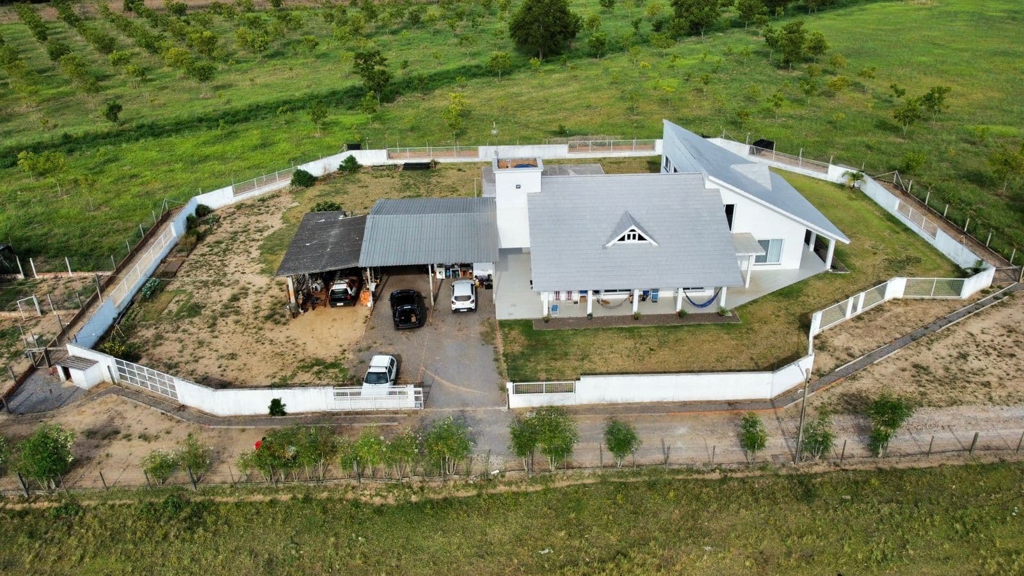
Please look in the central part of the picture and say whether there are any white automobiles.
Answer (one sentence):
Yes, there is a white automobile in the central part of the picture.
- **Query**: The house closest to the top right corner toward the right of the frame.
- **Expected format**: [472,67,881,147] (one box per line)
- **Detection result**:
[500,117,854,313]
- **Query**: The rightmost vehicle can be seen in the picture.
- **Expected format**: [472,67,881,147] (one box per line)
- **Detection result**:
[451,282,479,314]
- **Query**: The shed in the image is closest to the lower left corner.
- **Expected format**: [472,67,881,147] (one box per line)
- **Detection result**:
[48,346,109,389]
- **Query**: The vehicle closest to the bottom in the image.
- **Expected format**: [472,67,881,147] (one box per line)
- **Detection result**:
[361,355,397,394]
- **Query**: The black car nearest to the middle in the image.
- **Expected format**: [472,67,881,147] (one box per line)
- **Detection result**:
[391,292,424,330]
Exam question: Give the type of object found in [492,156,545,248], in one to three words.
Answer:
water tower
